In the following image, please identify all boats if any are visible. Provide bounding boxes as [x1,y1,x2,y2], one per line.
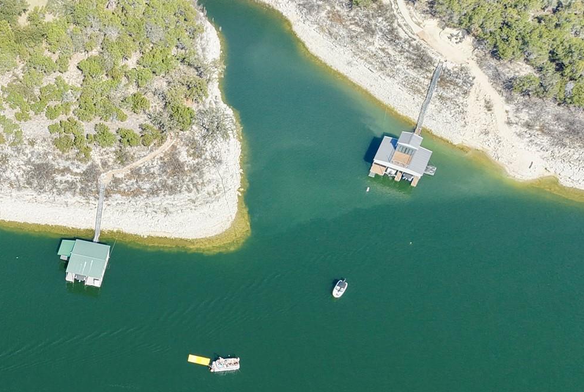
[208,358,242,372]
[402,171,414,184]
[385,165,398,179]
[77,275,86,286]
[335,279,349,299]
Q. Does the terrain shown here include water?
Yes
